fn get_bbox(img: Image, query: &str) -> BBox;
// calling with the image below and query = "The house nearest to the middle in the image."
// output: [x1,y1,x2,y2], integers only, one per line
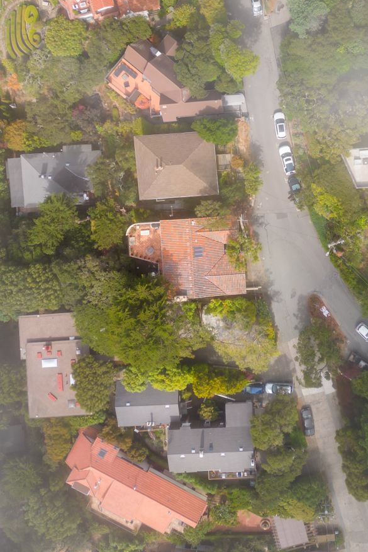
[127,216,247,303]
